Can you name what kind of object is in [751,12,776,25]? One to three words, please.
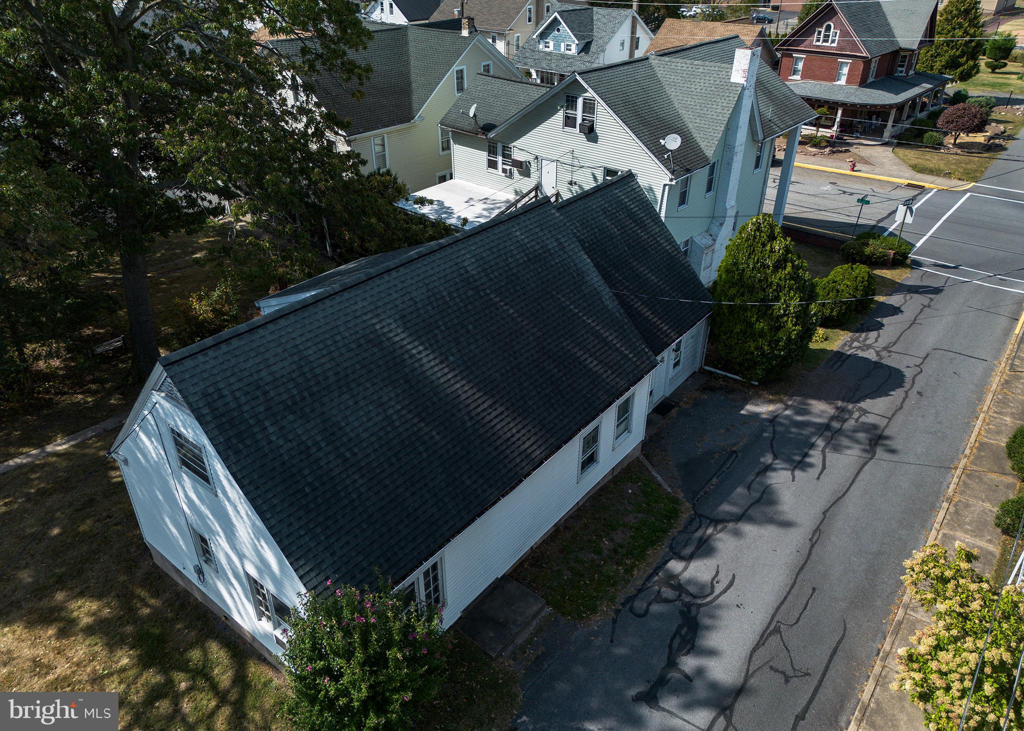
vehicle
